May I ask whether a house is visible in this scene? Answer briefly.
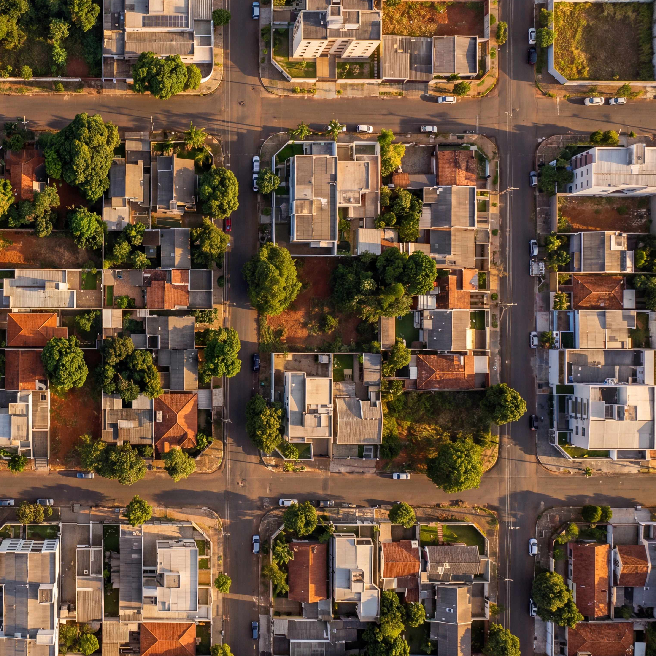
Yes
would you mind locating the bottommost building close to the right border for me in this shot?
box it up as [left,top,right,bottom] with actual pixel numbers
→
[562,620,646,656]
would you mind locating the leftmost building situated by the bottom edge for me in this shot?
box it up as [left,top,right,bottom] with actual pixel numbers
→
[0,540,59,656]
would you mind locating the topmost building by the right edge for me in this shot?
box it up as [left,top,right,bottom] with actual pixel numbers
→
[576,144,656,192]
